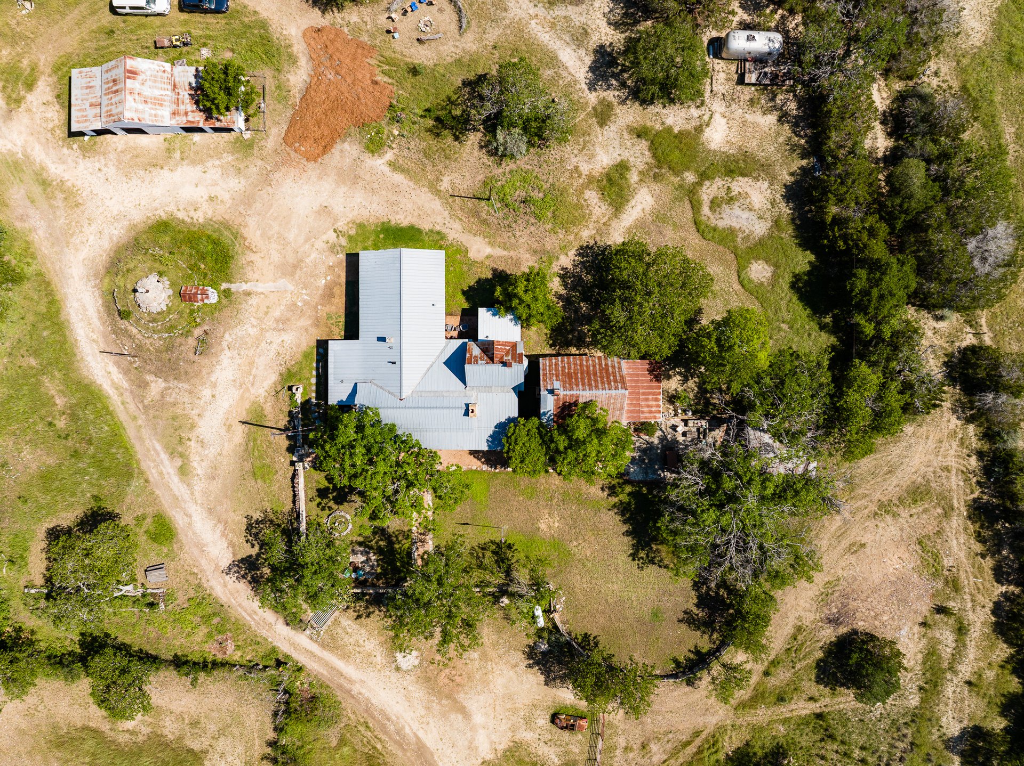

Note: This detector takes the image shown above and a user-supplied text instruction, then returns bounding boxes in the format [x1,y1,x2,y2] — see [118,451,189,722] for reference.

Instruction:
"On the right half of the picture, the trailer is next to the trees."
[704,29,785,64]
